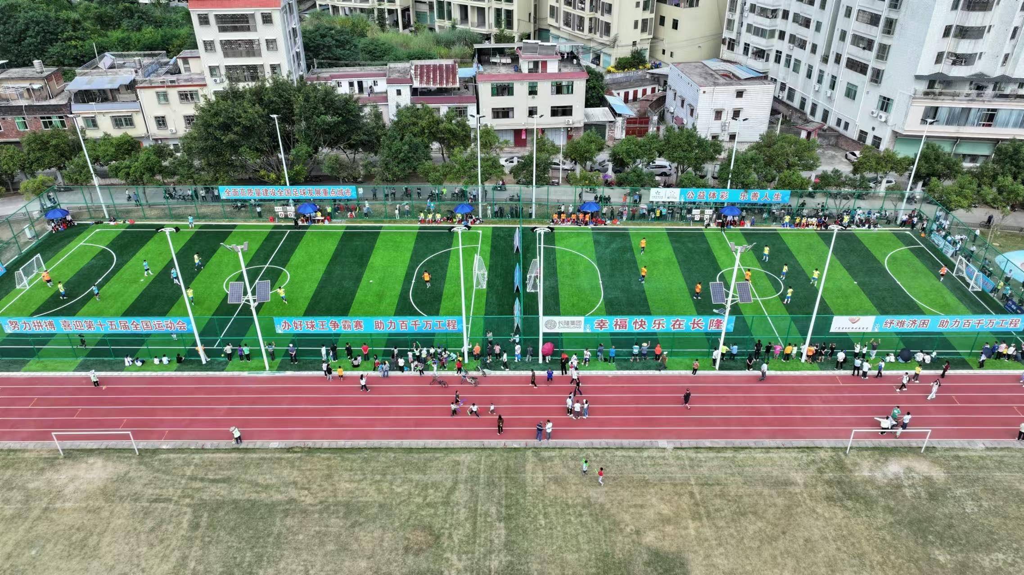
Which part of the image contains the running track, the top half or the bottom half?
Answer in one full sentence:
The running track is in the bottom half of the image.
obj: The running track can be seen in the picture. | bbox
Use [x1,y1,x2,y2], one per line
[0,374,1024,441]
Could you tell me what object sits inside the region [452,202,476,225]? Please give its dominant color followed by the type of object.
blue umbrella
